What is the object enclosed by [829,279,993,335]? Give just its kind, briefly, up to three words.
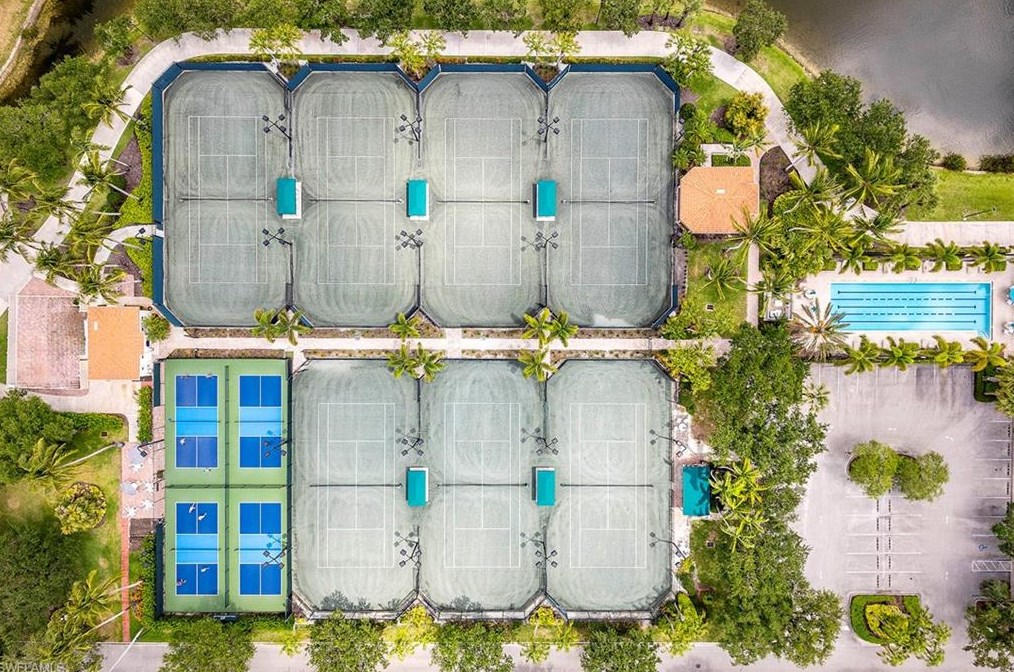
swimming pool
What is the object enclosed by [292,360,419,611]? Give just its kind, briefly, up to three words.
tennis court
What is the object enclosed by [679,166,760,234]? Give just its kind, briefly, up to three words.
building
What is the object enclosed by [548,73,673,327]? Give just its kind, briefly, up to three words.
tennis court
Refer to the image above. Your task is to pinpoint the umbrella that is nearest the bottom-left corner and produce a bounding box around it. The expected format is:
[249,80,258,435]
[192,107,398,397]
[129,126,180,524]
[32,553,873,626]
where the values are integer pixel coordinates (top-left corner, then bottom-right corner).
[117,482,135,499]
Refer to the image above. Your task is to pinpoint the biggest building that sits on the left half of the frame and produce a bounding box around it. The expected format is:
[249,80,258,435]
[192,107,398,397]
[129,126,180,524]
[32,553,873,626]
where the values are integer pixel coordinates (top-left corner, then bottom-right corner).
[87,306,150,381]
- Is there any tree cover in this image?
Yes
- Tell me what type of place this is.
sports ground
